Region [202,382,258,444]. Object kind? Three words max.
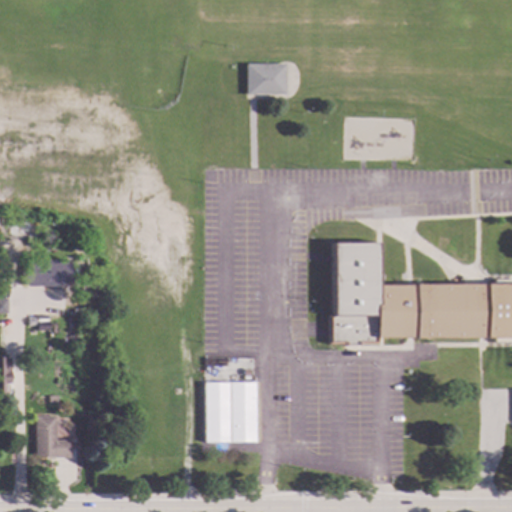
building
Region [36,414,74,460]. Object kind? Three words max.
house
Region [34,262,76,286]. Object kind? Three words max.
house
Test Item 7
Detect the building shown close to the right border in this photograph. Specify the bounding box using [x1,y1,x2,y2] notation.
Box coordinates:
[330,244,512,344]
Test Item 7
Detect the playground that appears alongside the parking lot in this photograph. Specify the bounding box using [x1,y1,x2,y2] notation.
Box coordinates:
[343,116,412,162]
